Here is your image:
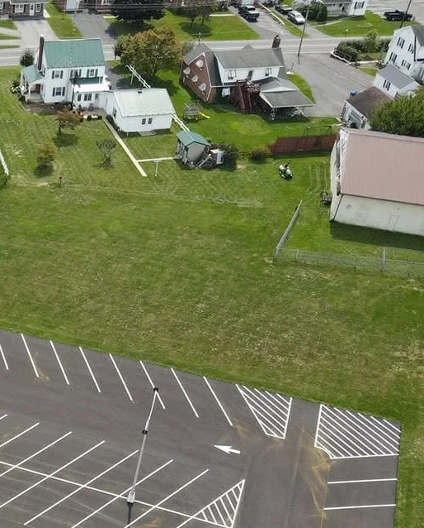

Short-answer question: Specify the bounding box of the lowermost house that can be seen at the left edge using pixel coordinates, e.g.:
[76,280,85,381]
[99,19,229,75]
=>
[19,30,112,108]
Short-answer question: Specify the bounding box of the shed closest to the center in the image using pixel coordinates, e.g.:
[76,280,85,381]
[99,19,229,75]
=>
[173,128,211,164]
